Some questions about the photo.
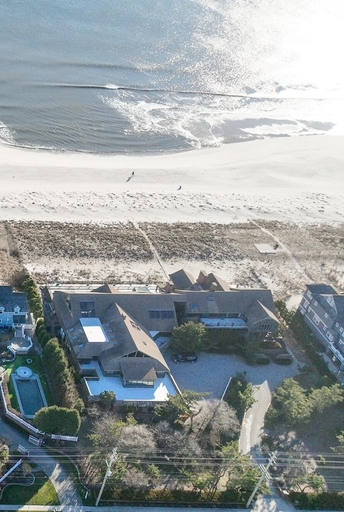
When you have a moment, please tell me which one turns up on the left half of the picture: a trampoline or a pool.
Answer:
pool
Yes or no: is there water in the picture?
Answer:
Yes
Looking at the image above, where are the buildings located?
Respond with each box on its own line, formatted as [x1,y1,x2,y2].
[45,261,290,408]
[0,282,41,346]
[292,283,344,378]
